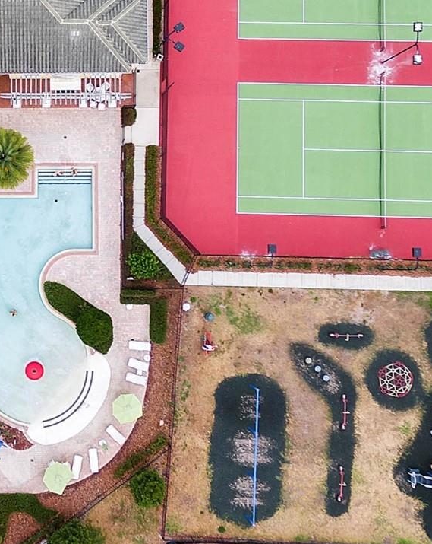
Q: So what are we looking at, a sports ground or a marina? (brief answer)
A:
sports ground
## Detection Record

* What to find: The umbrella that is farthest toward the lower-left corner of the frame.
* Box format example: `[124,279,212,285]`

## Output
[43,462,71,491]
